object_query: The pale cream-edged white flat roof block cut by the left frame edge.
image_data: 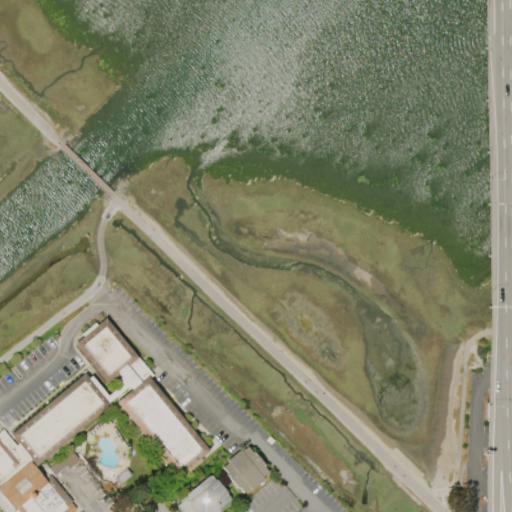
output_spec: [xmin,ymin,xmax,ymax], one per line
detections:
[0,430,32,486]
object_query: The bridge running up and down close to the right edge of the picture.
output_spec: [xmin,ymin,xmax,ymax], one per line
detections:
[486,0,512,512]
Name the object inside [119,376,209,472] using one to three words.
building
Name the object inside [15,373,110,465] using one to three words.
building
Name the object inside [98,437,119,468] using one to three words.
swimming pool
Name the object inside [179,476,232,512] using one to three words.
house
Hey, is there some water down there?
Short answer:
Yes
